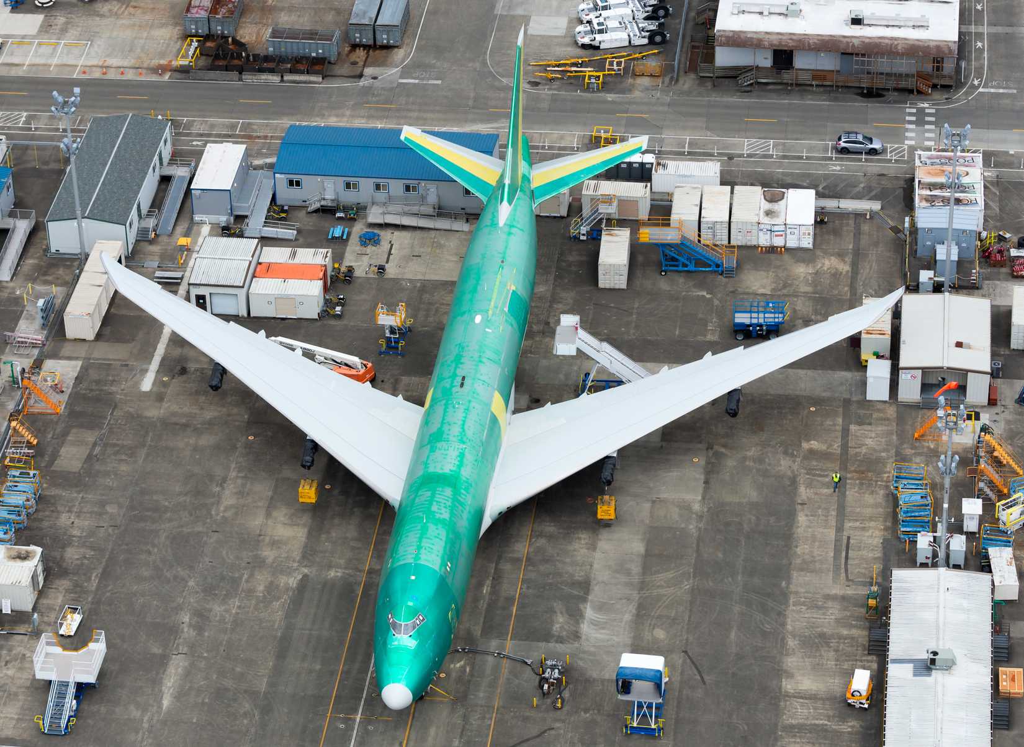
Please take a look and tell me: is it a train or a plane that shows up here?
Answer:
plane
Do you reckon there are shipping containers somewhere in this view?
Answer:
Yes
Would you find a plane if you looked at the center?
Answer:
Yes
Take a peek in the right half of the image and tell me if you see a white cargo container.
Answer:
Yes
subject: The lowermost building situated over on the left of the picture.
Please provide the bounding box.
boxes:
[185,234,262,314]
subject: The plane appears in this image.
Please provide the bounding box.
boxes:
[103,25,901,712]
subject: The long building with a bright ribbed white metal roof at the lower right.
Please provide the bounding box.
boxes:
[882,565,994,747]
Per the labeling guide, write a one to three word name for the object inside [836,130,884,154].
car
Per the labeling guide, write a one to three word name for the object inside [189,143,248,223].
building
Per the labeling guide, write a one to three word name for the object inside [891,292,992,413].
building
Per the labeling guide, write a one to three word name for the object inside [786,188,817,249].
shipping container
